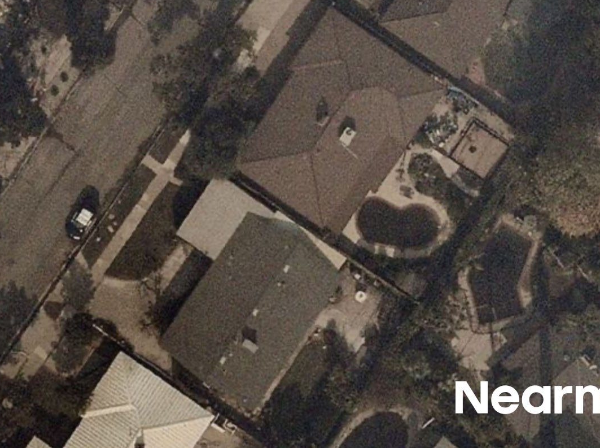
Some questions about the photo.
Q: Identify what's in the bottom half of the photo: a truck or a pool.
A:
pool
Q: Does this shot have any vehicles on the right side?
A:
No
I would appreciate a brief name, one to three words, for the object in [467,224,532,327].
swimming pool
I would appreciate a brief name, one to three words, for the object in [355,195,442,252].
swimming pool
